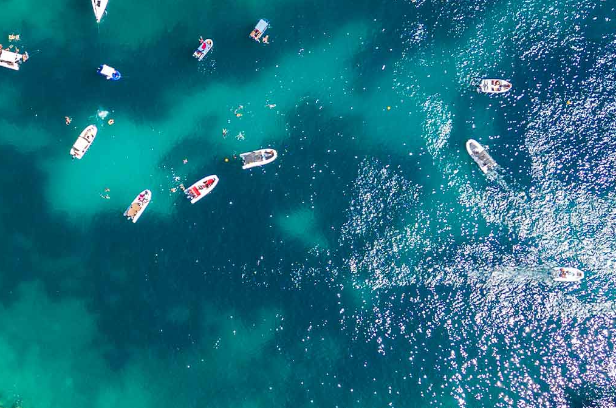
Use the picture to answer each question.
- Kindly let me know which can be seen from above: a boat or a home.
boat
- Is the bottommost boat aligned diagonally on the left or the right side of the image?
left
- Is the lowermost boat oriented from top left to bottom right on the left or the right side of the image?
right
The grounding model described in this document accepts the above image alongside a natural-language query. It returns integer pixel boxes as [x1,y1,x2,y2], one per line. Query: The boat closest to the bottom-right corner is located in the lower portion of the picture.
[551,268,585,282]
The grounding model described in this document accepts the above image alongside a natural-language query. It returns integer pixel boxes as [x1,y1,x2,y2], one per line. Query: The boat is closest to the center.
[240,149,280,168]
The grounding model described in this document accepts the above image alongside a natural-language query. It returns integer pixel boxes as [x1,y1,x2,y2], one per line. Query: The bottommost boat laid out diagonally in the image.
[123,190,152,223]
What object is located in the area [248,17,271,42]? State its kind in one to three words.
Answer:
boat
